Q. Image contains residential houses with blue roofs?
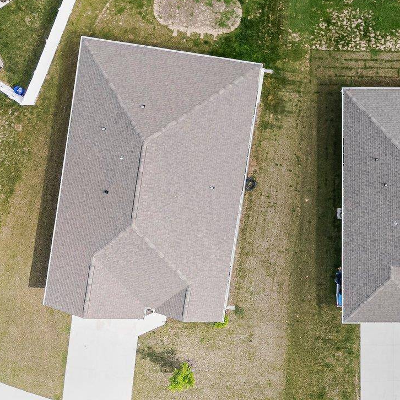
No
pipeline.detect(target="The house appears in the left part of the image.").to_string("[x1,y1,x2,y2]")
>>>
[43,36,273,322]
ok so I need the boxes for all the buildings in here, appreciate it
[43,36,273,322]
[340,87,400,324]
